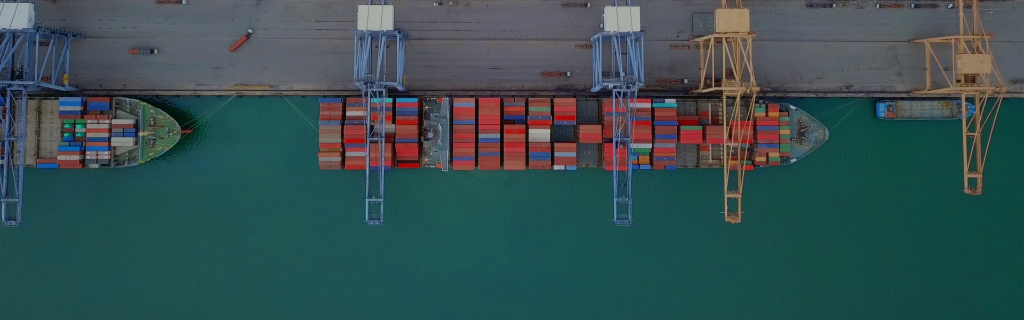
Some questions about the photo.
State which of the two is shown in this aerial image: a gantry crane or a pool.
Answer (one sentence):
Of the two, only a gantry crane appears.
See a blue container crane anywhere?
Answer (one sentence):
Yes, there's a blue container crane down there.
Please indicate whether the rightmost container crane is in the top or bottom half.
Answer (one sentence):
It is in the top half that the rightmost container crane appears.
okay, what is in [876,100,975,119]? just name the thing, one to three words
ship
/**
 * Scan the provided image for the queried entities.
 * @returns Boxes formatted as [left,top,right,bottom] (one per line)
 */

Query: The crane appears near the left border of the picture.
[0,0,89,230]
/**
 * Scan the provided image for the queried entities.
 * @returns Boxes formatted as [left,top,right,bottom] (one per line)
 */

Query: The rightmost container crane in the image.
[908,0,1007,195]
